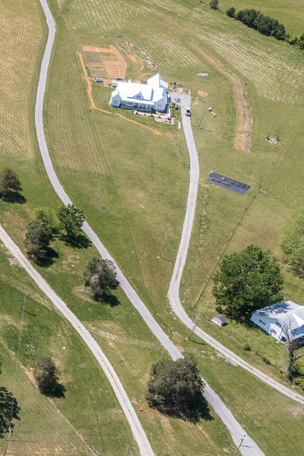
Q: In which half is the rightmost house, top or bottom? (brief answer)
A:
bottom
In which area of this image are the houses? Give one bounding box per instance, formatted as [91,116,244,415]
[110,74,172,113]
[251,300,304,345]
